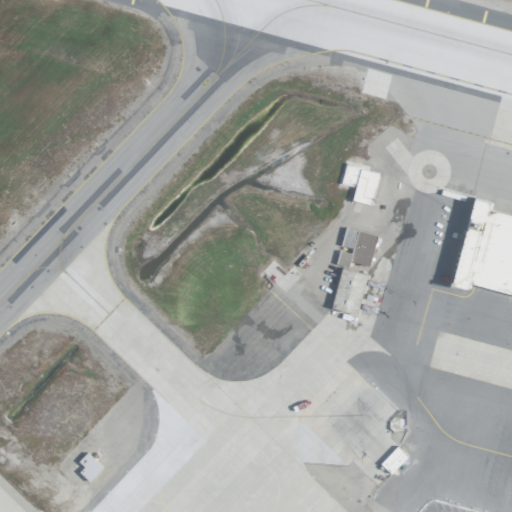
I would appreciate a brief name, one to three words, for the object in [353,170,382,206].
building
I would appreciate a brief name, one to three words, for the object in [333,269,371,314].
building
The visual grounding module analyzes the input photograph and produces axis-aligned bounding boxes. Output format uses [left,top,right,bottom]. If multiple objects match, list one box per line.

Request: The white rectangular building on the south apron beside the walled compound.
[382,446,410,474]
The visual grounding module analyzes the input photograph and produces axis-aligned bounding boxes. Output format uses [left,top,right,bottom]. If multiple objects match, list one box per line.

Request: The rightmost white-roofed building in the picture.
[450,198,512,296]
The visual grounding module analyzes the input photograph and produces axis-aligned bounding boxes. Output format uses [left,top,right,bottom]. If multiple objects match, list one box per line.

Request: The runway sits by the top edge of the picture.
[160,0,512,100]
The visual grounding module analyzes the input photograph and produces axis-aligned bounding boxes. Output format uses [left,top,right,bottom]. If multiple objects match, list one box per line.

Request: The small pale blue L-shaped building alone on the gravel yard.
[80,452,106,482]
